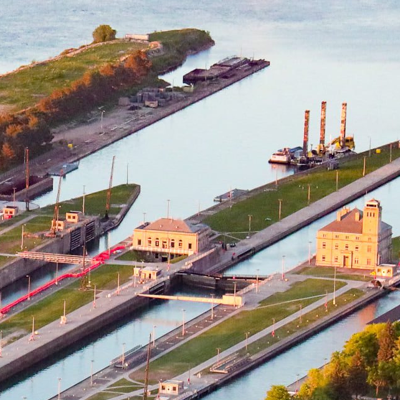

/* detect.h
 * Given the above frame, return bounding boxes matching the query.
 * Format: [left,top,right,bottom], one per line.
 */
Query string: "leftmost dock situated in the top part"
[0,28,270,200]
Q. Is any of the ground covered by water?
Yes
